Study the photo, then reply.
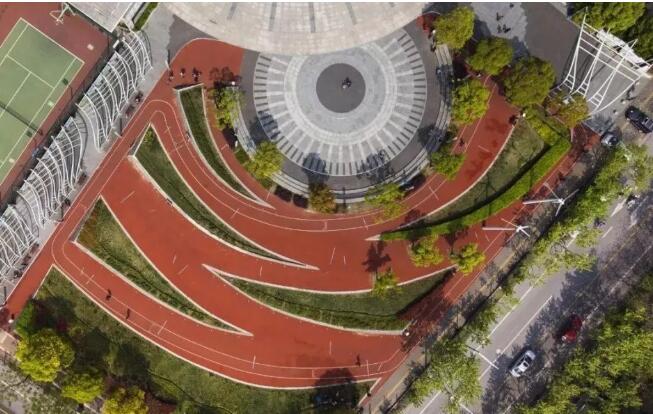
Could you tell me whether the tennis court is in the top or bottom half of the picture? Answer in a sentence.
The tennis court sits in the top half of the picture.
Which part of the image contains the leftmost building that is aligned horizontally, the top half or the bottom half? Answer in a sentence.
Seen from above, the leftmost building that is aligned horizontally lies in the top half of the view.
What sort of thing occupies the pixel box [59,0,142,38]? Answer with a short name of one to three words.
building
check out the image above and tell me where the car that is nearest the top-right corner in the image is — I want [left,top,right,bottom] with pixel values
[623,105,653,133]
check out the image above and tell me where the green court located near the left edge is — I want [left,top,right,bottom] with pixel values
[0,0,117,209]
